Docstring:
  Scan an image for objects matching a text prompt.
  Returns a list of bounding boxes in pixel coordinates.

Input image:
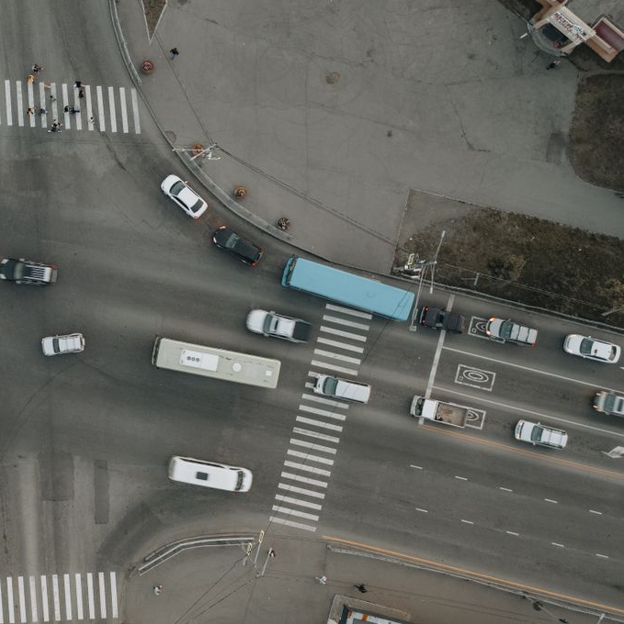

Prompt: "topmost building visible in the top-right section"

[522,0,624,63]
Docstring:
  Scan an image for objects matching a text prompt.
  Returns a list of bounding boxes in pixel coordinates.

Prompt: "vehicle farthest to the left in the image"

[0,259,58,285]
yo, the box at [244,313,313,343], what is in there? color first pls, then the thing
white truck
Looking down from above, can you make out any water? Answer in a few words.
No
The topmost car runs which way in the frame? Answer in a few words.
at an angle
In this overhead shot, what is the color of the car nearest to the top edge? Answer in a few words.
white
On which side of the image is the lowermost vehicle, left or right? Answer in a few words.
left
